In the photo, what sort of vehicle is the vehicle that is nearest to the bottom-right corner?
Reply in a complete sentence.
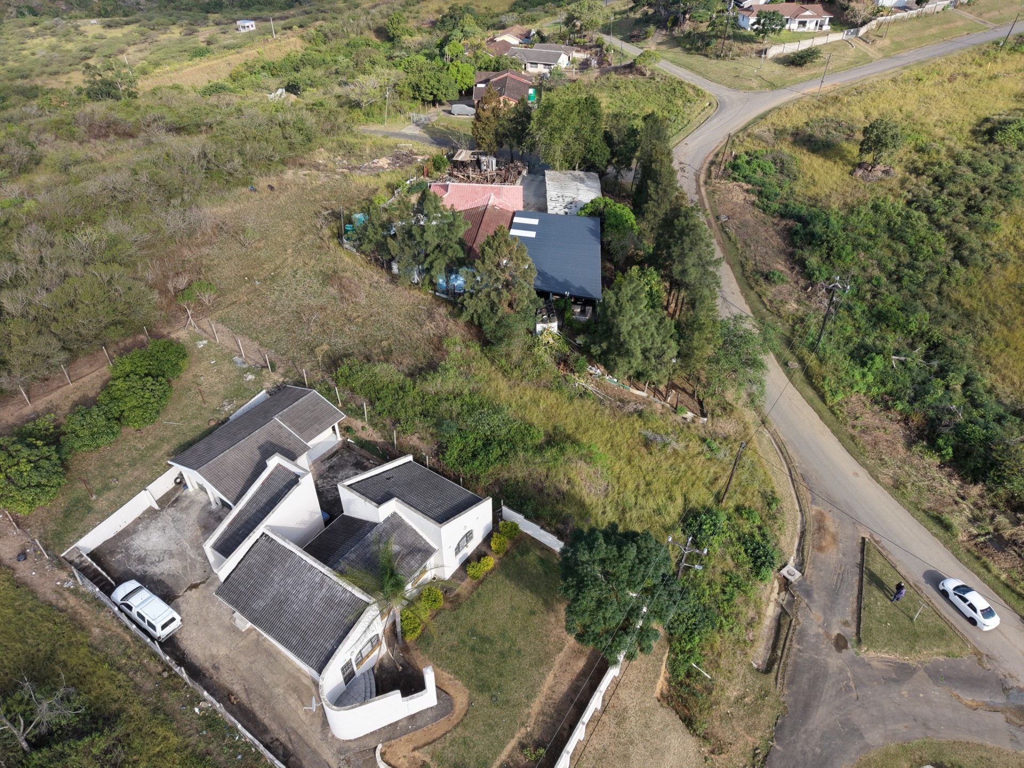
What you see as the vehicle that is nearest to the bottom-right corner is an automobile.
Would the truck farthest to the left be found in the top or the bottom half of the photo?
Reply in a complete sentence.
The truck farthest to the left sits in the bottom half of the picture.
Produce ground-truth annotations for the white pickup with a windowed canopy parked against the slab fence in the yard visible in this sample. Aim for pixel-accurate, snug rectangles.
[108,583,181,641]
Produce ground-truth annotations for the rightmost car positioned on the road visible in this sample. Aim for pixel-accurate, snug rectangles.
[937,576,1003,631]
